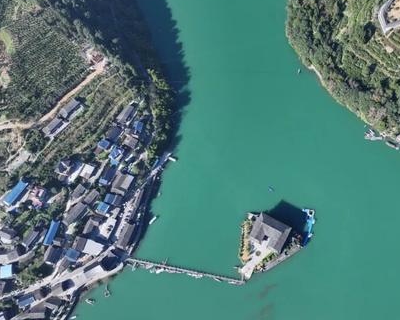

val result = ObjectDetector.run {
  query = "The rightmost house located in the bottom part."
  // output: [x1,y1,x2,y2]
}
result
[249,209,292,254]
